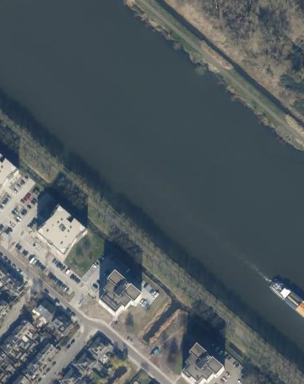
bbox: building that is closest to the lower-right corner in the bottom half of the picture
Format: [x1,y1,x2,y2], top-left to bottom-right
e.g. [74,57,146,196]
[182,343,224,384]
